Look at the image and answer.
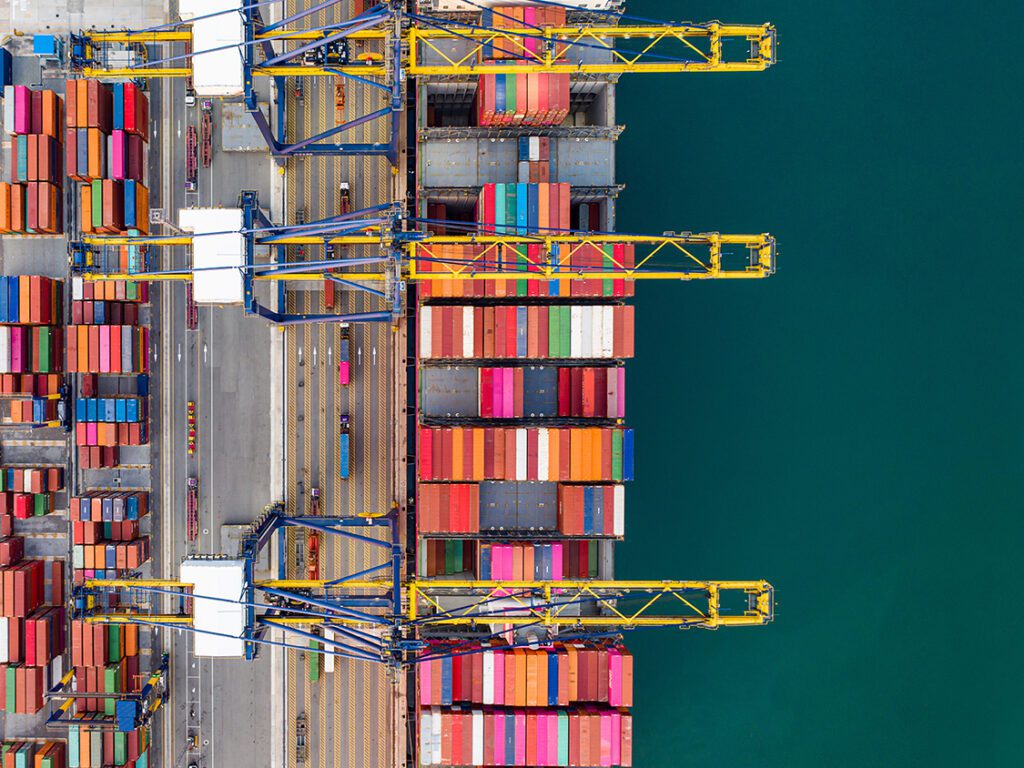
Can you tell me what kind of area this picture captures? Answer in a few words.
port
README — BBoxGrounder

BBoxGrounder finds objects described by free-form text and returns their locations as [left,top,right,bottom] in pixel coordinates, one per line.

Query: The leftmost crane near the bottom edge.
[41,660,165,732]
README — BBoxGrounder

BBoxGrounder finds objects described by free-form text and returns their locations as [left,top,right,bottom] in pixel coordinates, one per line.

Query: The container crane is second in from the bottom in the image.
[65,501,781,671]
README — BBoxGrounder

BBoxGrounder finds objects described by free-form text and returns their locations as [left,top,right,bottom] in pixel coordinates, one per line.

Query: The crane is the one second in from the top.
[65,192,781,339]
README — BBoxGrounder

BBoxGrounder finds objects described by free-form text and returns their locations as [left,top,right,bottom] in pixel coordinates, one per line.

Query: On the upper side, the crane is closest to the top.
[65,0,781,176]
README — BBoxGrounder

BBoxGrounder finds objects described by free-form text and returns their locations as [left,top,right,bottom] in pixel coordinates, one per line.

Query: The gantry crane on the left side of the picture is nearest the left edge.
[0,385,69,429]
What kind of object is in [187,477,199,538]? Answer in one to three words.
vehicle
